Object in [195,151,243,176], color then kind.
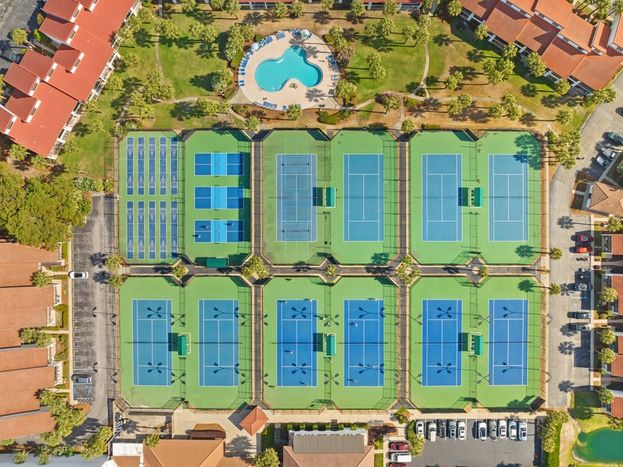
blue sports court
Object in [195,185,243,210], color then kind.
blue sports court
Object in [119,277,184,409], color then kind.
green tennis court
